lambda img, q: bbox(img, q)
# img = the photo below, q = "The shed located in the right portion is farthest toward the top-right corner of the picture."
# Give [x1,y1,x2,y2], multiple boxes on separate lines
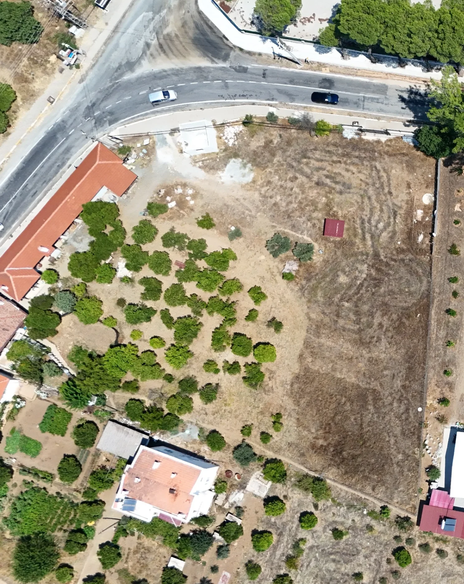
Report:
[324,218,347,238]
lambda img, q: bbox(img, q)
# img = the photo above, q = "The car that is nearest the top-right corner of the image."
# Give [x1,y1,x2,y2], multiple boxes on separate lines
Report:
[309,90,339,105]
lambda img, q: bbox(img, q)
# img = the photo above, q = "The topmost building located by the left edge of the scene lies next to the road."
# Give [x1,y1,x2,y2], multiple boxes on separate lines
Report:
[0,142,146,302]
